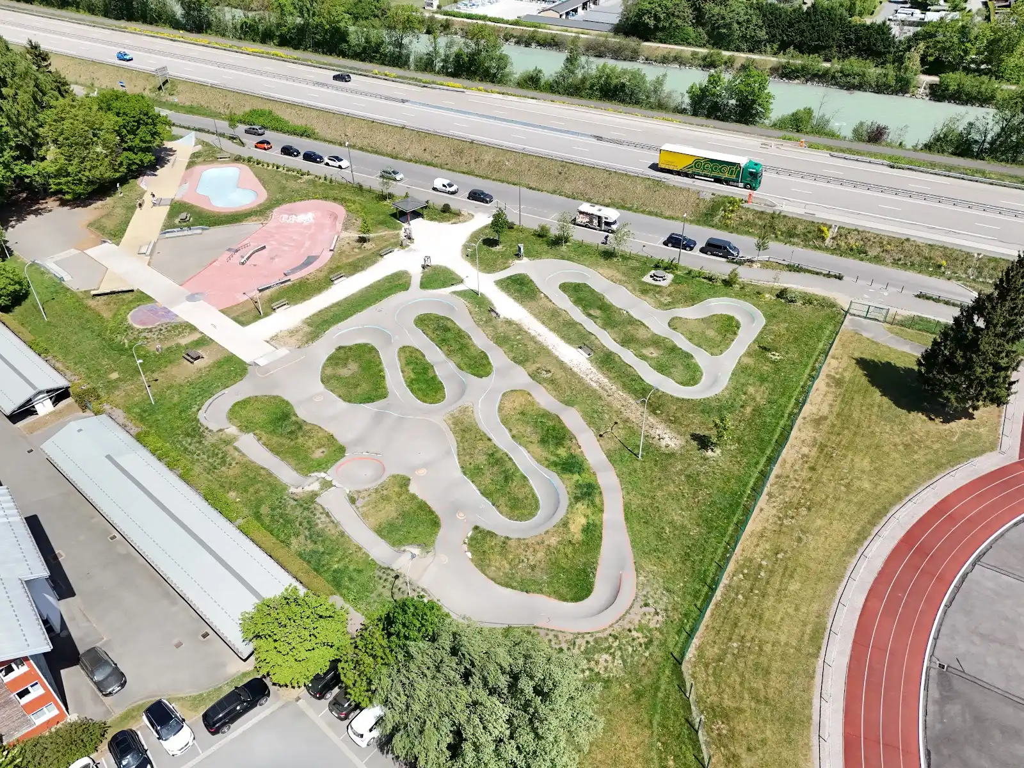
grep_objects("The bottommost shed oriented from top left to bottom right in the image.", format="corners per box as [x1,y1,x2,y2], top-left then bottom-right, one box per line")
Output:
[38,414,305,670]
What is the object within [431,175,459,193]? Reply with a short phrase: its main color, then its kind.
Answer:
white vehicle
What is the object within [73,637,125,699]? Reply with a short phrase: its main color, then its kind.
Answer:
gray car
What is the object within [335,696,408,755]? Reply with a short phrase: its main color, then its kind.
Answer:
white car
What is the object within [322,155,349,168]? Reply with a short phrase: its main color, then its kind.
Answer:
white vehicle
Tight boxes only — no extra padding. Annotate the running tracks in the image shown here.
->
[842,414,1024,768]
